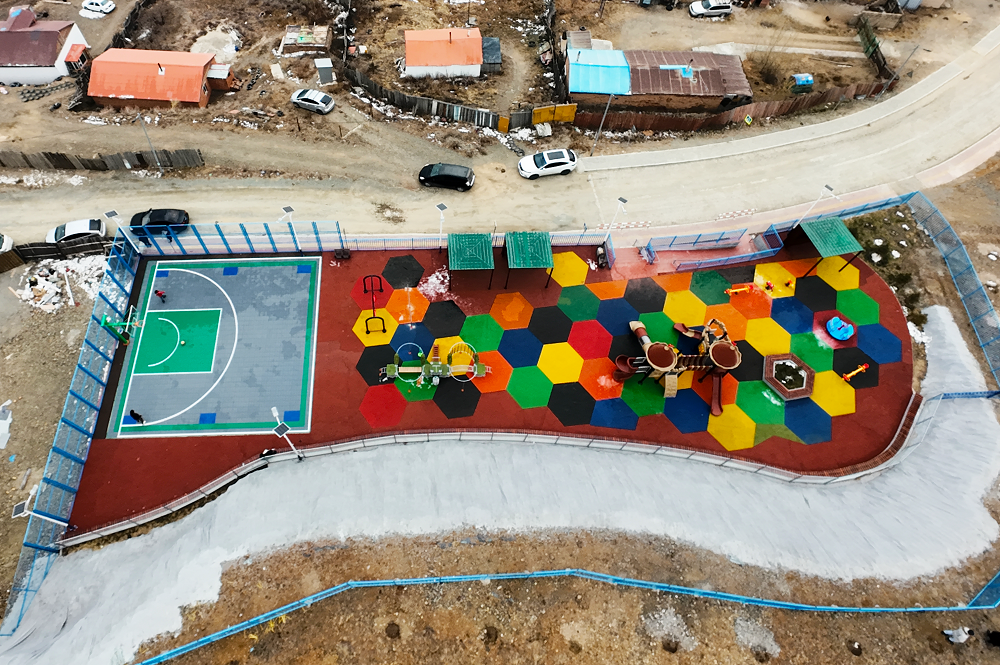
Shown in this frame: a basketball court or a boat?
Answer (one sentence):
This aerial view contains a basketball court.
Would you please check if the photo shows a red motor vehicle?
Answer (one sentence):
No, I can see no red motor vehicle in this picture.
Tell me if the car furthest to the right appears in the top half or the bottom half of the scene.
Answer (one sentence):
You can find the car furthest to the right in the top half.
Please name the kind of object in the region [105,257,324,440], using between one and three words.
basketball court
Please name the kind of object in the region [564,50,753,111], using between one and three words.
house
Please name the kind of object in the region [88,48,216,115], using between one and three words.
house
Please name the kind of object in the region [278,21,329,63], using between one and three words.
shed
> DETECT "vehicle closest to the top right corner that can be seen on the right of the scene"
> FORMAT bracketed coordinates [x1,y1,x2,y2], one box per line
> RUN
[688,0,733,23]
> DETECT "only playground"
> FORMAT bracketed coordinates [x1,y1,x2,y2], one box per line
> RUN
[63,228,922,538]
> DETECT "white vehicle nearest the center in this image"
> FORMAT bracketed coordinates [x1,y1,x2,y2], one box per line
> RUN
[520,151,577,184]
